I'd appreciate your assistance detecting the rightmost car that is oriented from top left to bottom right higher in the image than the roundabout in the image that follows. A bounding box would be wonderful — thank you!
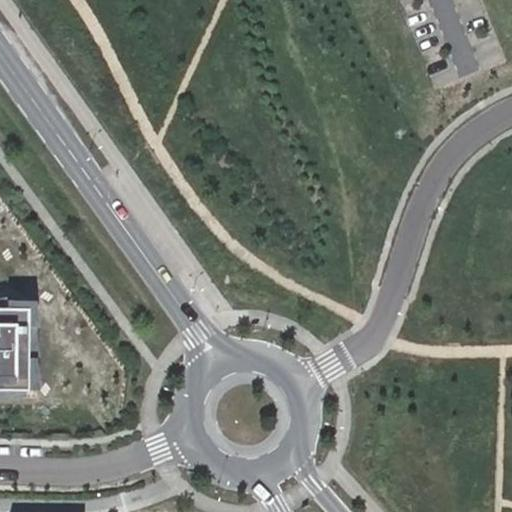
[180,302,198,322]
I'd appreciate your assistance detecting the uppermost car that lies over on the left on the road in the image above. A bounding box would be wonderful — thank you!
[112,201,128,220]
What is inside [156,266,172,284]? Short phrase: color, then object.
white car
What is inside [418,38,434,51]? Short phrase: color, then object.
white vehicle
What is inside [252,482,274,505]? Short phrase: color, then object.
white vehicle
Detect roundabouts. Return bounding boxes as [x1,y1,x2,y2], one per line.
[168,338,324,494]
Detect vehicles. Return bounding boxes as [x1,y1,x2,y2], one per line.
[0,470,18,480]
[252,482,274,505]
[426,61,446,74]
[416,24,436,36]
[112,201,128,220]
[156,266,172,284]
[20,447,44,458]
[180,302,198,322]
[418,38,434,51]
[406,14,426,26]
[0,448,10,456]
